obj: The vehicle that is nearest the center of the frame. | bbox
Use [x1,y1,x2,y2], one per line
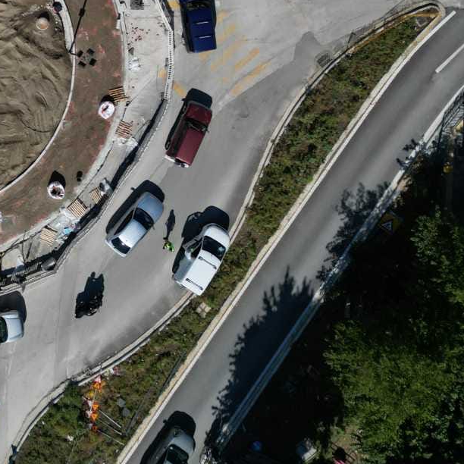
[172,220,230,302]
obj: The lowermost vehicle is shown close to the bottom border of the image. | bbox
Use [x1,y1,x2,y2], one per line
[141,411,198,464]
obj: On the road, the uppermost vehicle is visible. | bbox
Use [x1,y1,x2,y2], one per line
[178,0,217,53]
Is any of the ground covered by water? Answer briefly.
No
